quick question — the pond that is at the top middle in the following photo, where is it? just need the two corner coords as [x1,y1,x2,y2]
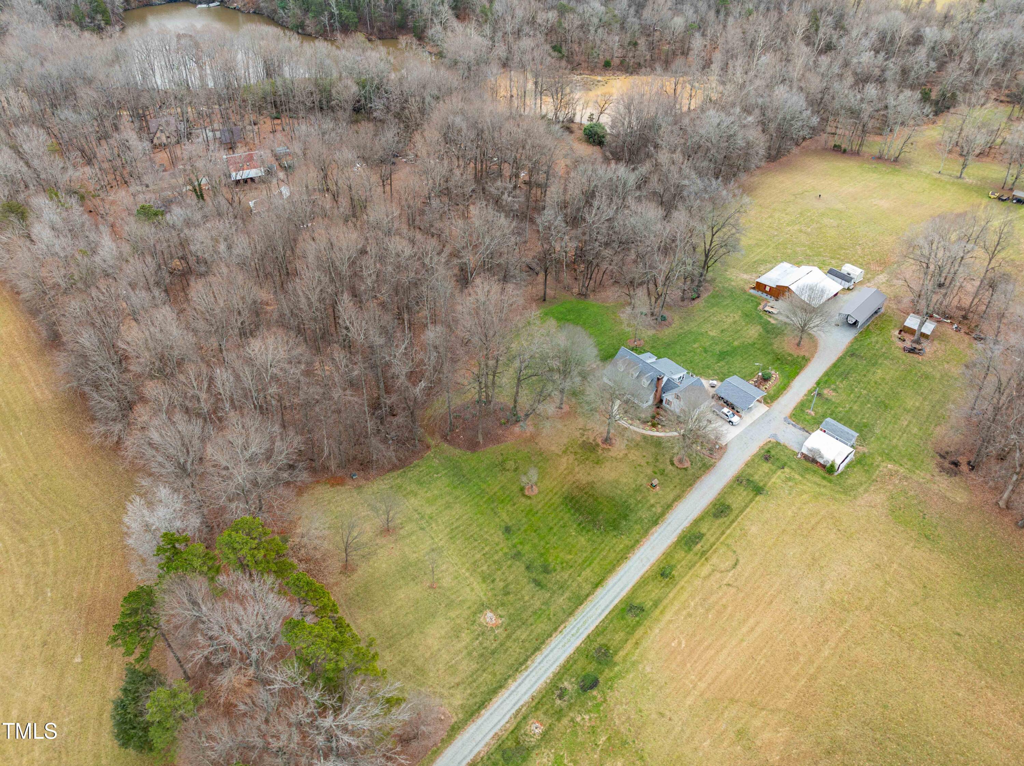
[490,72,721,132]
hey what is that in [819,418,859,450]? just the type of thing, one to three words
shed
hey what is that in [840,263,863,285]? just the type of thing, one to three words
vehicle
